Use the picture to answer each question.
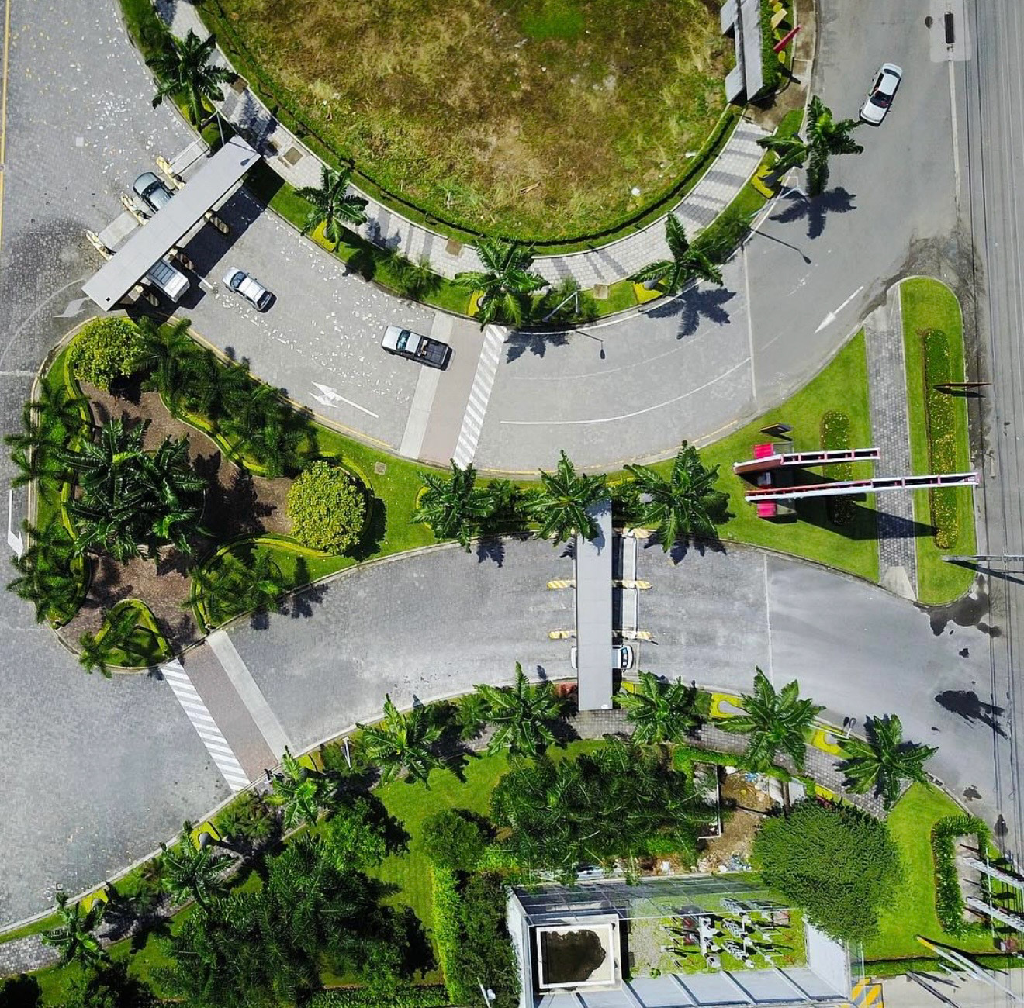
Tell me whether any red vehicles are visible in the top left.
No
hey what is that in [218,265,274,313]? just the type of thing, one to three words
car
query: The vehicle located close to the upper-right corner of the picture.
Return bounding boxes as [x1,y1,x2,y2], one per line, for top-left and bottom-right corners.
[858,61,906,127]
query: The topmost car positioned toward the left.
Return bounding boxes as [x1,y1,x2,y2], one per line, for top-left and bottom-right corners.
[133,169,173,213]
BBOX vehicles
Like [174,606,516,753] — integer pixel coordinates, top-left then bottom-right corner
[380,327,455,369]
[218,265,274,313]
[133,169,173,213]
[151,256,197,306]
[858,61,906,127]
